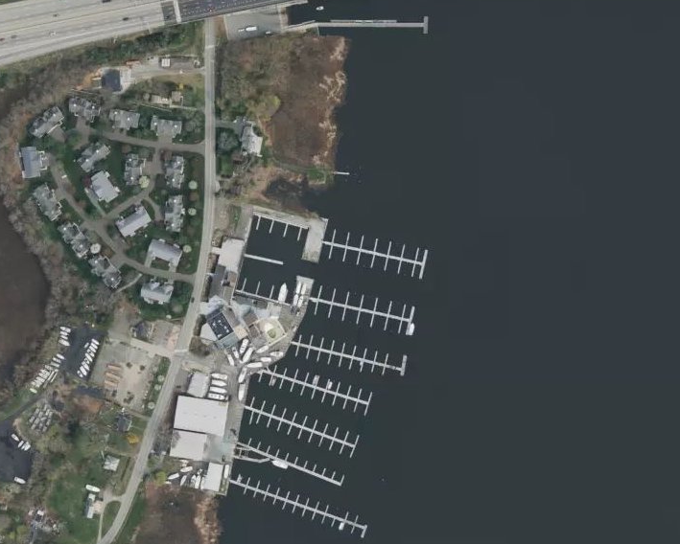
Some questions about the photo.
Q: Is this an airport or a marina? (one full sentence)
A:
The area seen from above is a marina.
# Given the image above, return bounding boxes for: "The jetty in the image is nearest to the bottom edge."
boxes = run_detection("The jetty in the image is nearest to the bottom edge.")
[229,474,368,537]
